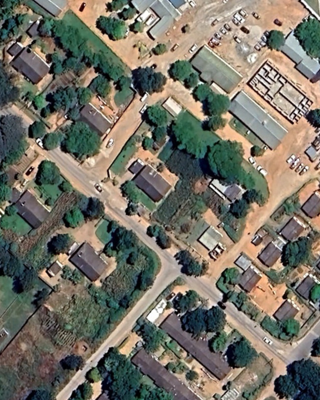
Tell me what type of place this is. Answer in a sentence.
The picture captures a residential area.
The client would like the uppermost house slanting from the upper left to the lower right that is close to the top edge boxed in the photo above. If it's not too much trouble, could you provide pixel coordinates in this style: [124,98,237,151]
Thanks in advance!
[156,0,187,24]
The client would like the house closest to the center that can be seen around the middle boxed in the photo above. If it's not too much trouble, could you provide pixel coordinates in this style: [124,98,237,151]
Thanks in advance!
[132,165,172,202]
